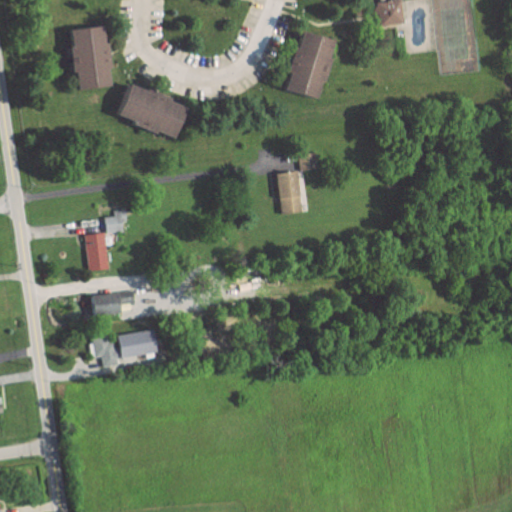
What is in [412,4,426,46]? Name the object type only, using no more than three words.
swimming pool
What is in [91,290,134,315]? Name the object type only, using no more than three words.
house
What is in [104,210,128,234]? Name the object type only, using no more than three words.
building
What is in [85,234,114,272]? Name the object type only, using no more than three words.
house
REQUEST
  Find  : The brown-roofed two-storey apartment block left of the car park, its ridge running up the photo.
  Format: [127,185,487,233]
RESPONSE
[72,24,112,89]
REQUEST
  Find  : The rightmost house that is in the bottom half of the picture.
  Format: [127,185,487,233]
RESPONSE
[118,331,158,360]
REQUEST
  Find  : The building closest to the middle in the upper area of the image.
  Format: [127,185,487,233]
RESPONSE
[278,171,308,214]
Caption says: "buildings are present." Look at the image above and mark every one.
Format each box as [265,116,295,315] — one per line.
[104,210,128,234]
[288,30,336,98]
[85,234,114,272]
[89,340,118,368]
[118,84,186,138]
[298,156,313,172]
[278,171,308,214]
[118,331,158,360]
[375,0,404,26]
[72,24,112,89]
[91,290,134,315]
